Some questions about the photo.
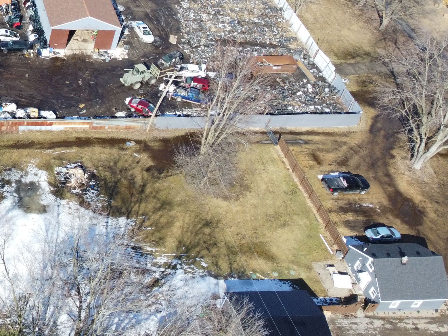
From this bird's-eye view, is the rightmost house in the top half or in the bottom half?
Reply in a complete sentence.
Seen from above, the rightmost house lies in the bottom half of the view.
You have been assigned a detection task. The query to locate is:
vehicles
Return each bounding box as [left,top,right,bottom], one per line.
[0,39,34,54]
[172,63,210,78]
[0,28,21,42]
[117,57,173,89]
[157,48,188,69]
[317,172,374,197]
[120,94,161,116]
[177,75,219,92]
[355,224,409,243]
[168,87,214,110]
[134,20,155,43]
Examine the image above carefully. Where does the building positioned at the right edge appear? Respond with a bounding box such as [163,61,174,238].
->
[342,243,448,312]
